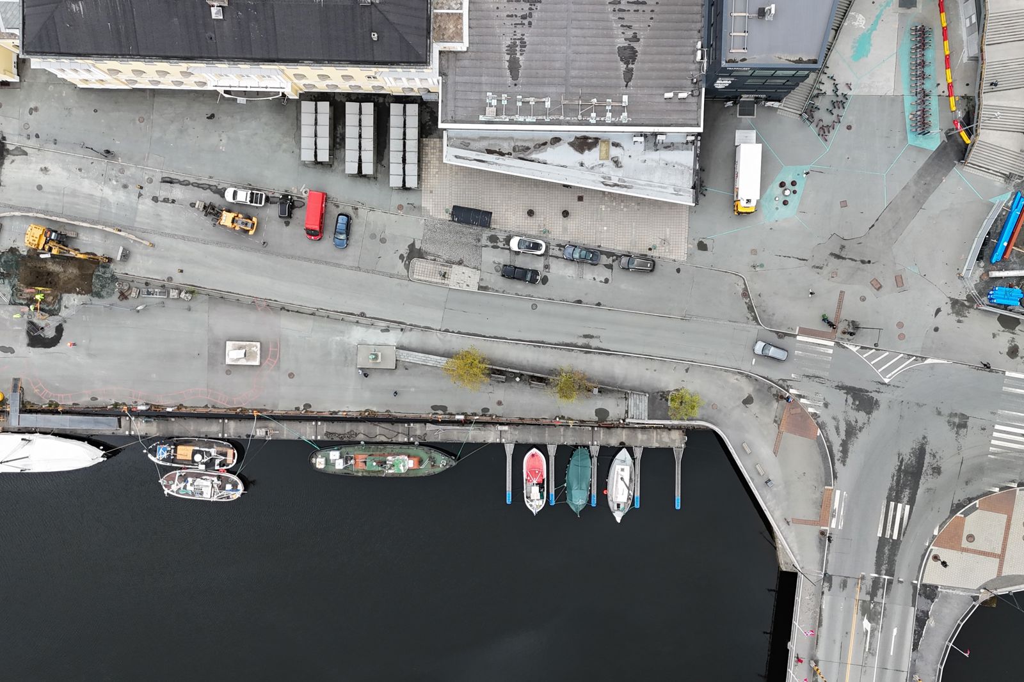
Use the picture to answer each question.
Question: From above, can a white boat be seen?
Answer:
Yes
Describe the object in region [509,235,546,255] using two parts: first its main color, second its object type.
white car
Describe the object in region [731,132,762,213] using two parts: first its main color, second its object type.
white truck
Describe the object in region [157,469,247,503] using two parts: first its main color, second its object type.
white boat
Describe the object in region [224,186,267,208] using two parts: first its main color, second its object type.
white vehicle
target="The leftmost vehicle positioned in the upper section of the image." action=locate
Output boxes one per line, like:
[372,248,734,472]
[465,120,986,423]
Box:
[22,225,108,262]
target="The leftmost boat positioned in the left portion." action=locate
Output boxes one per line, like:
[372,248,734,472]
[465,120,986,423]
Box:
[0,434,114,472]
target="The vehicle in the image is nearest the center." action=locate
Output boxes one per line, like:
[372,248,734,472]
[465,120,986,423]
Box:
[500,264,542,286]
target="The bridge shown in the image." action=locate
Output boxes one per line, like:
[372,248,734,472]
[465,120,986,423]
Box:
[771,531,996,682]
